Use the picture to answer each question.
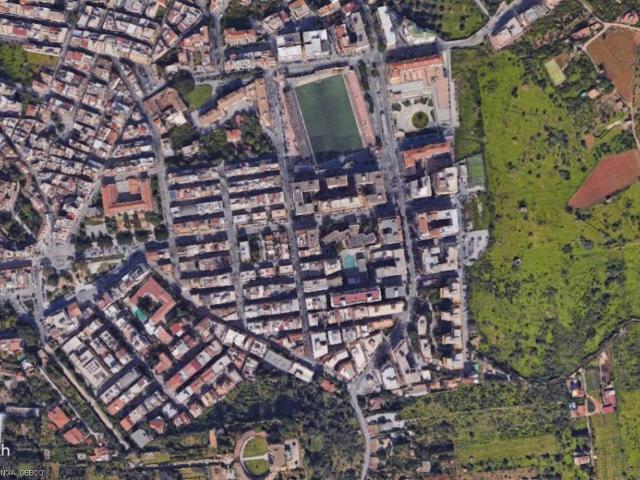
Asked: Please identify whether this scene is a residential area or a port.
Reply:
residential area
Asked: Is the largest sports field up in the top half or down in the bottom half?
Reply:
top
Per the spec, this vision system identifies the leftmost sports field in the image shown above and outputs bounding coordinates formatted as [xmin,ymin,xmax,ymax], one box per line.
[281,65,376,168]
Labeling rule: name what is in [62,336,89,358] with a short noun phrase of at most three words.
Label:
house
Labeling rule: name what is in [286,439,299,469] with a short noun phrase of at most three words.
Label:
house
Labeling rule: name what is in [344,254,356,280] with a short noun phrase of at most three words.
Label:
swimming pool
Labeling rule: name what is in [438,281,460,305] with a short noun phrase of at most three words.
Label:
building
